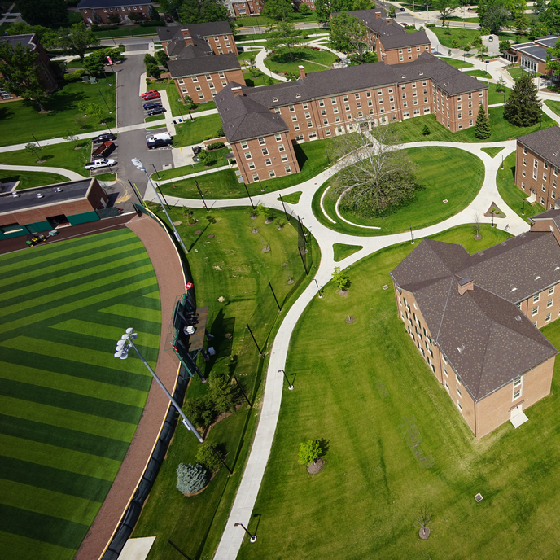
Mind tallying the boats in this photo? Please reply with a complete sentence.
There are no boats in this view.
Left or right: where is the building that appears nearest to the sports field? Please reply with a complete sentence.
The building that appears nearest to the sports field appears in the left half of the scene.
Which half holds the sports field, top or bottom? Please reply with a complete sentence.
It is in the bottom half that the sports field appears.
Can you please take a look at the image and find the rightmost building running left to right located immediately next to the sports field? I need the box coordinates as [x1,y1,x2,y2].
[212,51,490,188]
